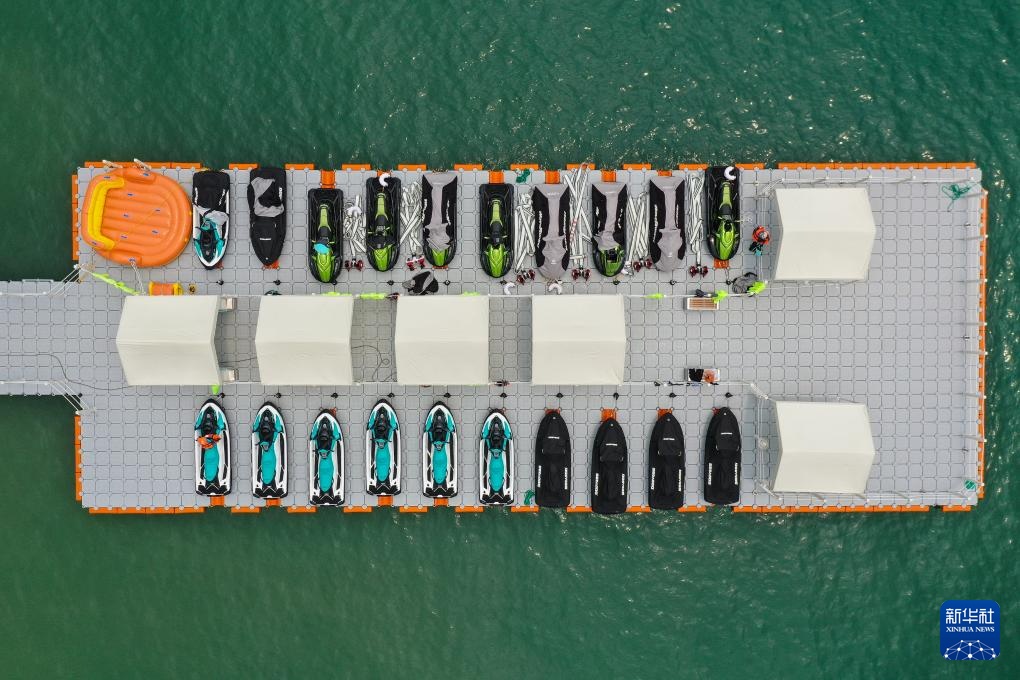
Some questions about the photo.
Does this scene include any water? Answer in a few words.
Yes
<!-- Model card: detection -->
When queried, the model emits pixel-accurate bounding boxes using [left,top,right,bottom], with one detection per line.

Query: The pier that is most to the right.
[74,163,985,513]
